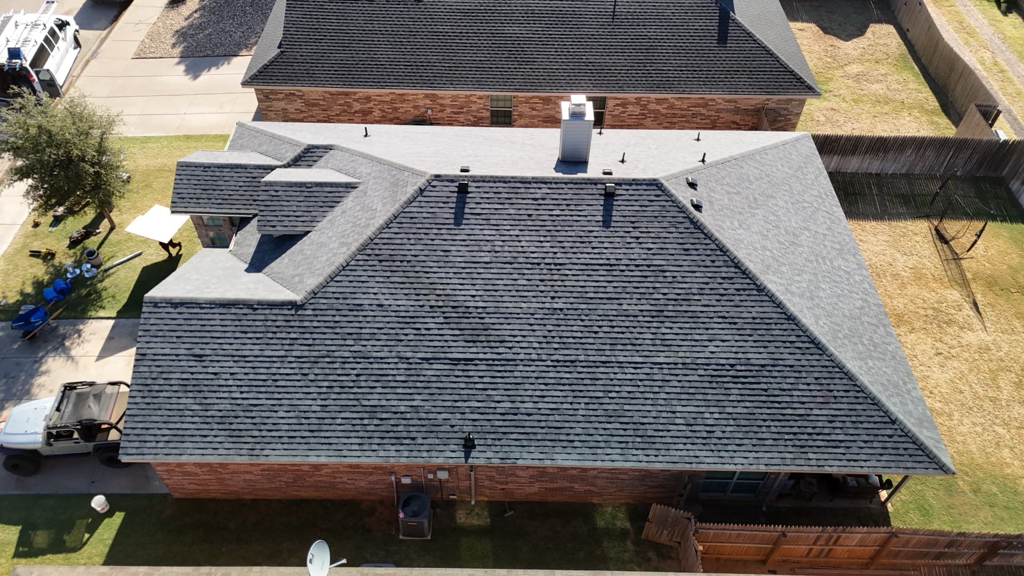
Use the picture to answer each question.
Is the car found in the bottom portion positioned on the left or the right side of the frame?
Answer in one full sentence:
The car found in the bottom portion is on the left side of the image.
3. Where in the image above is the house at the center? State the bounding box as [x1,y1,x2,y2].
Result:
[118,98,958,512]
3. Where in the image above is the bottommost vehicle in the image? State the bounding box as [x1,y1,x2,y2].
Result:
[0,386,142,480]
